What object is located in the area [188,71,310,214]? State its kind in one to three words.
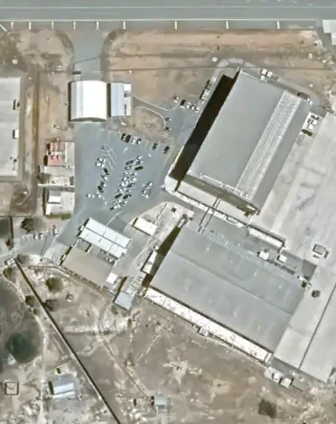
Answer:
hangar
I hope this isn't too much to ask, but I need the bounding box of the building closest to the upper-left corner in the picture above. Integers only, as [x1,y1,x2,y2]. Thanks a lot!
[72,80,106,121]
